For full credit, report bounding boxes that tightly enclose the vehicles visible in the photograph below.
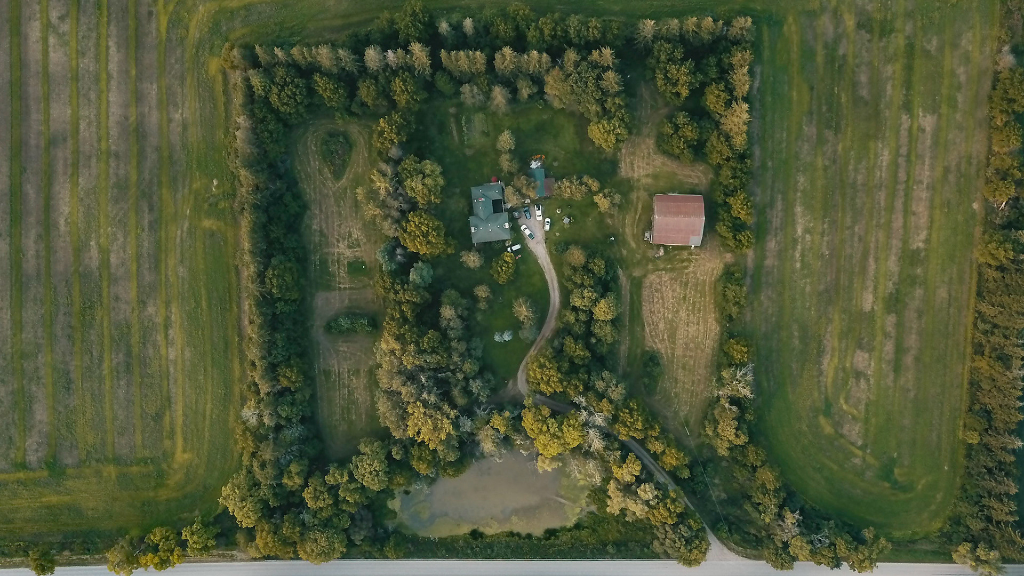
[544,218,551,231]
[520,224,535,241]
[535,203,542,221]
[523,206,531,220]
[512,209,520,219]
[507,243,521,252]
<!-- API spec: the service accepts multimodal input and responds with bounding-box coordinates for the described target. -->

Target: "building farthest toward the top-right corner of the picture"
[651,195,705,246]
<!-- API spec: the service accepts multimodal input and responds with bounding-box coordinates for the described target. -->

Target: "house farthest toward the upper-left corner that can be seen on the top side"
[469,183,511,243]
